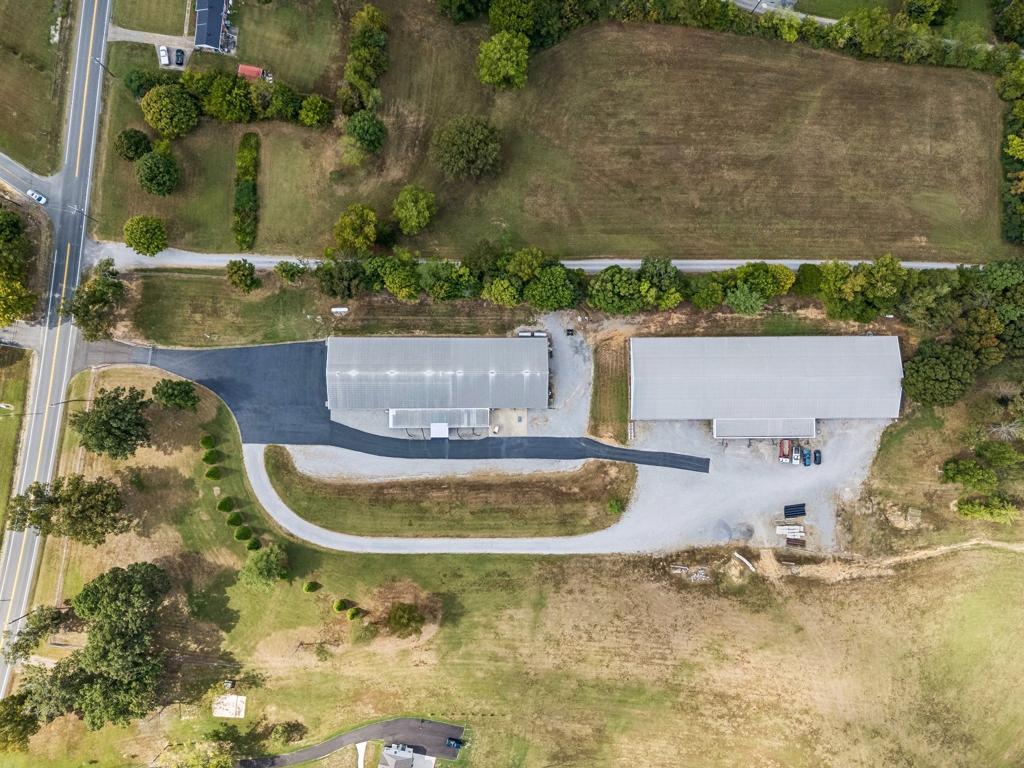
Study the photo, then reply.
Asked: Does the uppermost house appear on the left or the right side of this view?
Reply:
left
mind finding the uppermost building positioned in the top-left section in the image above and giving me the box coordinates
[194,0,226,53]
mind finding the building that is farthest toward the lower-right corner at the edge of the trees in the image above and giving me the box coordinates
[629,336,904,443]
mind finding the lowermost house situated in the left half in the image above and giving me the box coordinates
[376,740,415,768]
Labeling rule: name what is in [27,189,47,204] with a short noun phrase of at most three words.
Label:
car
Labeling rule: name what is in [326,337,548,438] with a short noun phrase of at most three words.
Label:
building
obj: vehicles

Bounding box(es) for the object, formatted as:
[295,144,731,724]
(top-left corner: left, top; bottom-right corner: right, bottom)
[159,45,169,66]
[802,448,812,467]
[444,738,464,748]
[175,49,184,66]
[813,449,822,465]
[792,446,801,465]
[779,440,792,463]
[27,189,47,204]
